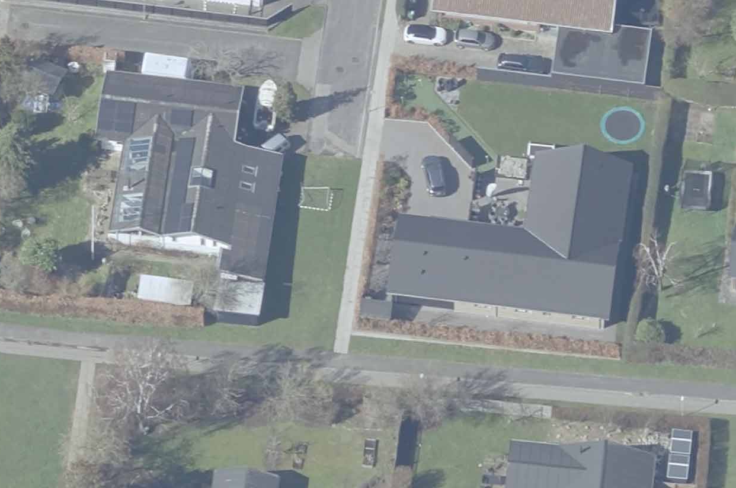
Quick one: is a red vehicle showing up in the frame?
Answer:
No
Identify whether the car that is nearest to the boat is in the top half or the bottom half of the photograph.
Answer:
top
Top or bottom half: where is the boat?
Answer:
top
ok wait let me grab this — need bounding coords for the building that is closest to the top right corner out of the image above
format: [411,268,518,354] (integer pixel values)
[551,26,654,96]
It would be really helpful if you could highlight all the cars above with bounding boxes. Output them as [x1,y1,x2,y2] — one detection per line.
[422,158,449,198]
[405,26,447,49]
[498,53,546,76]
[452,27,497,52]
[256,129,294,151]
